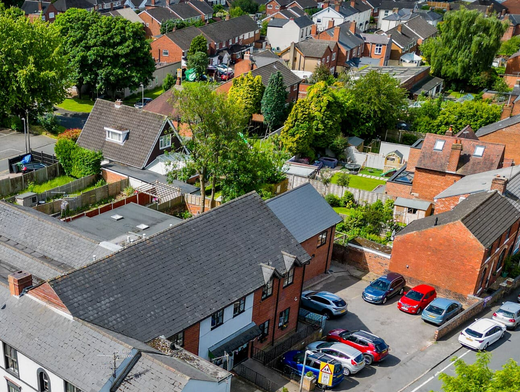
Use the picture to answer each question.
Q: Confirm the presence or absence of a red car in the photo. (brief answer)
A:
Yes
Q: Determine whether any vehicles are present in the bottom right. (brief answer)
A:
Yes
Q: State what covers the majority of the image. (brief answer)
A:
buildings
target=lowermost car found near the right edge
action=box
[461,316,511,350]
